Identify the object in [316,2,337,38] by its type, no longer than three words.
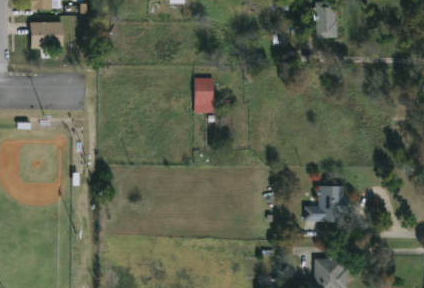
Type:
house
